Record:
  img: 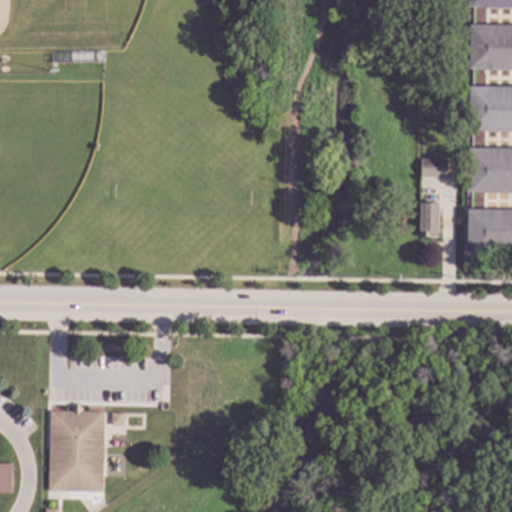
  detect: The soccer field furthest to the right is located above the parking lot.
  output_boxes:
[117,158,251,236]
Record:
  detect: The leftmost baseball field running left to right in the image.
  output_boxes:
[0,0,148,52]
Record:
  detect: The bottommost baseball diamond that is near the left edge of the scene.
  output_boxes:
[0,80,105,271]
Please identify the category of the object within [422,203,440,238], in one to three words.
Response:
shed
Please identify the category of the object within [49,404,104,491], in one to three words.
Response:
building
